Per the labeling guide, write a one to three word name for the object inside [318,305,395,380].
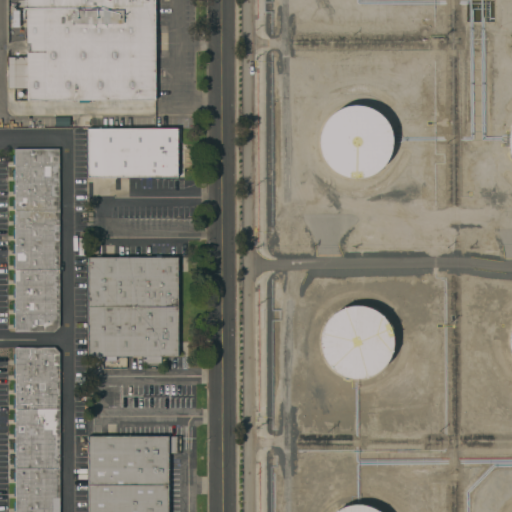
storage tank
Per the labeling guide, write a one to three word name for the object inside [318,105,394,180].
storage tank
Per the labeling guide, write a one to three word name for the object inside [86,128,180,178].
building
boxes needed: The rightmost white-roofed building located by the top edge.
[26,0,157,103]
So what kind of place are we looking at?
industrial area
